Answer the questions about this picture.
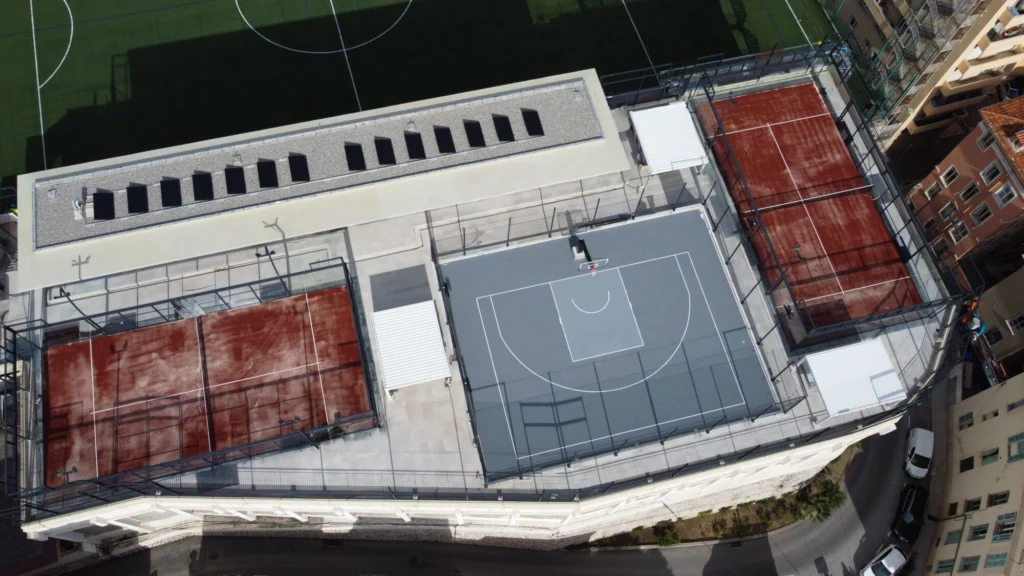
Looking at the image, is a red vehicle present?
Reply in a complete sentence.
No, there isn't any red vehicle down there.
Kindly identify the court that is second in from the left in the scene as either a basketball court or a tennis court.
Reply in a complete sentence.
The court that is second in from the left appears to be a basketball court.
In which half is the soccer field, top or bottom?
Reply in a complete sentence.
You can find the soccer field in the top half.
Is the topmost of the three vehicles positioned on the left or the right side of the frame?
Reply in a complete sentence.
The topmost of the three vehicles is on the right side of the image.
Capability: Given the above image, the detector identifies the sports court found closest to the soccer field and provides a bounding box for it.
[690,44,965,353]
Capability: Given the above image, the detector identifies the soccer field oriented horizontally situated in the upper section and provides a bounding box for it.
[0,0,857,209]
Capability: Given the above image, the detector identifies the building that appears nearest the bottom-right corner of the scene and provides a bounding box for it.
[924,372,1024,576]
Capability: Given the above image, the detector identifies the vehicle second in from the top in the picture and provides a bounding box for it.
[886,485,928,552]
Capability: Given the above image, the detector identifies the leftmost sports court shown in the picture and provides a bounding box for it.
[3,254,380,508]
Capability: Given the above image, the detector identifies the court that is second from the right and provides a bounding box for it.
[432,204,787,483]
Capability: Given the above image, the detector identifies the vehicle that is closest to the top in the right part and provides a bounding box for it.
[899,421,935,480]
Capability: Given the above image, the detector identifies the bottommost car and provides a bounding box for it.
[867,546,913,576]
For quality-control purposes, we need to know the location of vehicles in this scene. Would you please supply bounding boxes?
[867,546,913,576]
[886,485,928,552]
[899,421,935,480]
